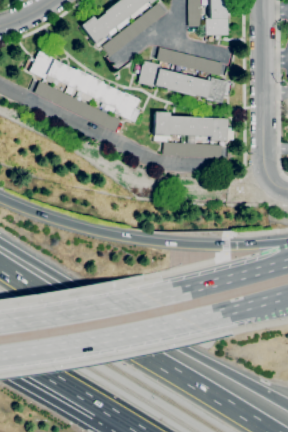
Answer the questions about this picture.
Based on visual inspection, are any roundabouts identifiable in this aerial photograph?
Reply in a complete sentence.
No, no roundabout is visible in the scene.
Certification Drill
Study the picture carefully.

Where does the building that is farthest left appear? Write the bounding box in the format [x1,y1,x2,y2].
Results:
[30,51,52,78]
